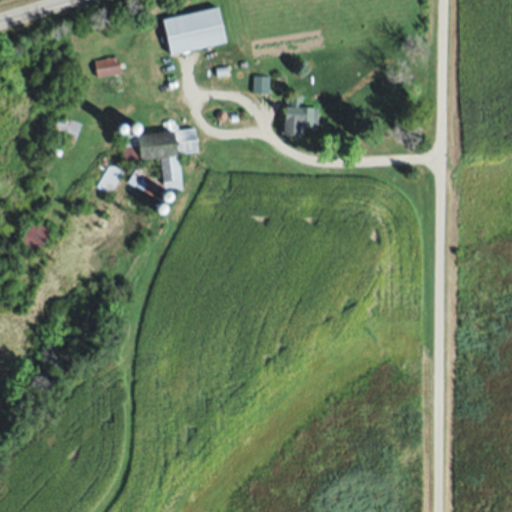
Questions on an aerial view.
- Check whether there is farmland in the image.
Yes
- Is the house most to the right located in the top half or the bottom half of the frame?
top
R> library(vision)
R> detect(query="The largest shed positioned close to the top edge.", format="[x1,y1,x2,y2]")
[164,8,228,54]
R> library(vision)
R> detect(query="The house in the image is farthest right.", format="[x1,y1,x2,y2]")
[285,96,320,138]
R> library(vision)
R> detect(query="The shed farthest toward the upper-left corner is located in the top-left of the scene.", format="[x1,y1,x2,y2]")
[95,57,122,78]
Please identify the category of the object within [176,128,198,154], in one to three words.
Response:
barn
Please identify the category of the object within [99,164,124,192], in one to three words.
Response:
shed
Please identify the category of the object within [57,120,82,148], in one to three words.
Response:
house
